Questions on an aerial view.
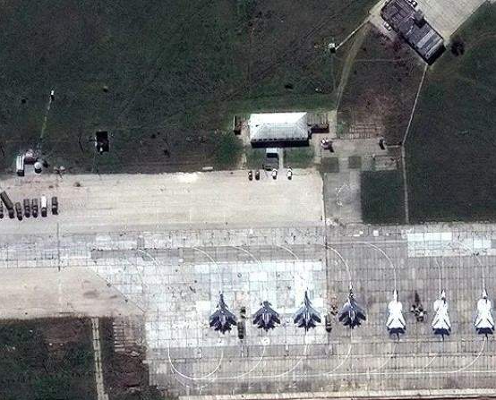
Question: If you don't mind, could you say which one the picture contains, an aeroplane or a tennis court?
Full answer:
It is an aeroplane that can be seen here.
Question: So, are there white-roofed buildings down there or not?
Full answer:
Yes, there's a white-roofed building down there.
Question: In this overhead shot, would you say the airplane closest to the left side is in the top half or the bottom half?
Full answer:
The bottom half of the photo is where the airplane closest to the left side is.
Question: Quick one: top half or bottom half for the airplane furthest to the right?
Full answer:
The airplane furthest to the right sits in the bottom half of the picture.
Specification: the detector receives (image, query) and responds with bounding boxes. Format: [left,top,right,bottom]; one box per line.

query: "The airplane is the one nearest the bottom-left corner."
[208,292,236,331]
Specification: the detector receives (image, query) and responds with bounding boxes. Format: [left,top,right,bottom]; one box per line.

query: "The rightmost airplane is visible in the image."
[475,291,495,331]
